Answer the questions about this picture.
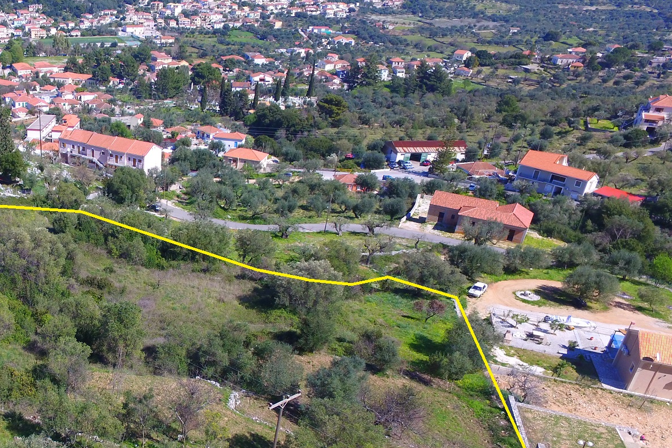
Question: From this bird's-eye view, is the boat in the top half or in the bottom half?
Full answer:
You can find the boat in the bottom half.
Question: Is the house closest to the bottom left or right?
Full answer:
The house closest to the bottom sits on the right side.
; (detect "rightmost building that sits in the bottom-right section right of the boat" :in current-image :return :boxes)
[622,320,672,397]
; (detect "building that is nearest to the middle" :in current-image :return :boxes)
[338,165,382,192]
